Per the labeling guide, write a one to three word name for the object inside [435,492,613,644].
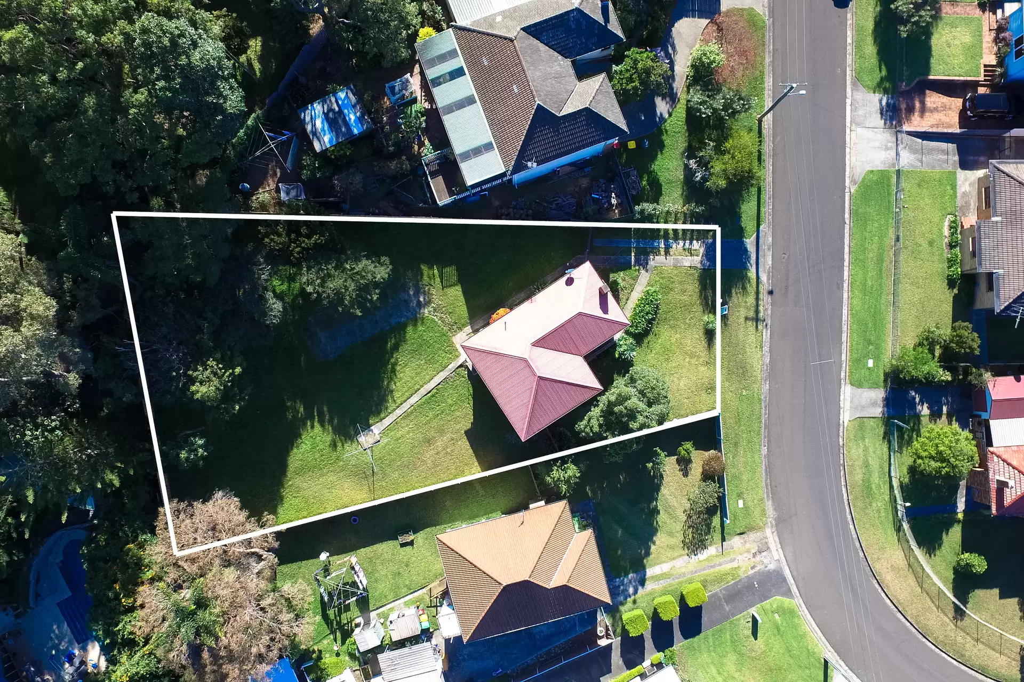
house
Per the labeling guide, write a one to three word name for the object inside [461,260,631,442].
house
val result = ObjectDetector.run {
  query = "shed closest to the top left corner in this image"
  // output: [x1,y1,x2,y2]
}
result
[298,85,373,155]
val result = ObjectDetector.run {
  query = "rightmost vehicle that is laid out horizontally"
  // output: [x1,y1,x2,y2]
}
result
[963,92,1017,118]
